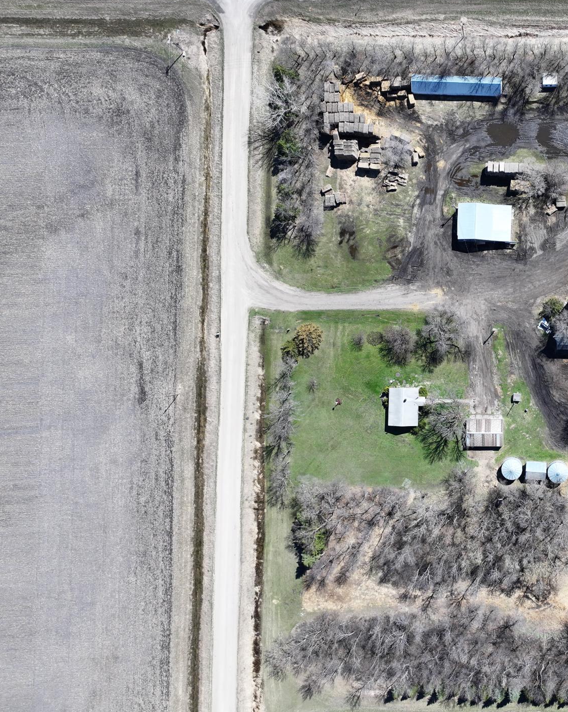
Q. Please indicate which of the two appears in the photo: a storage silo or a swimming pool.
storage silo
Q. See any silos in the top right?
No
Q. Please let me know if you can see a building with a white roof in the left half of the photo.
No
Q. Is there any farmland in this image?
Yes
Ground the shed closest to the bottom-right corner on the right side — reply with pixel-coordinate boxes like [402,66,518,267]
[526,460,546,480]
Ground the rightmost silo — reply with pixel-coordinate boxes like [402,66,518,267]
[547,459,568,481]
